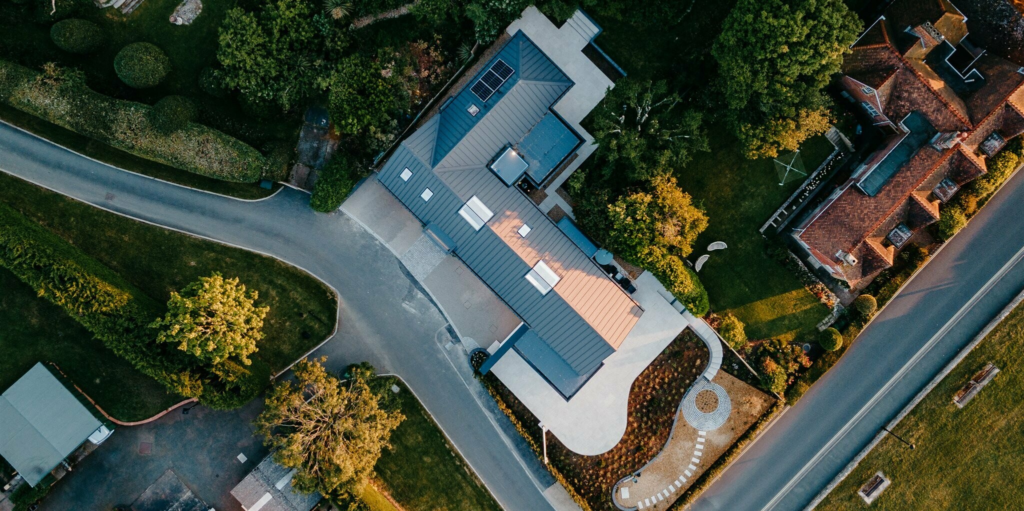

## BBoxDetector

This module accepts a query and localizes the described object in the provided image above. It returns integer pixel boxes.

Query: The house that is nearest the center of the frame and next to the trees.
[376,28,646,402]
